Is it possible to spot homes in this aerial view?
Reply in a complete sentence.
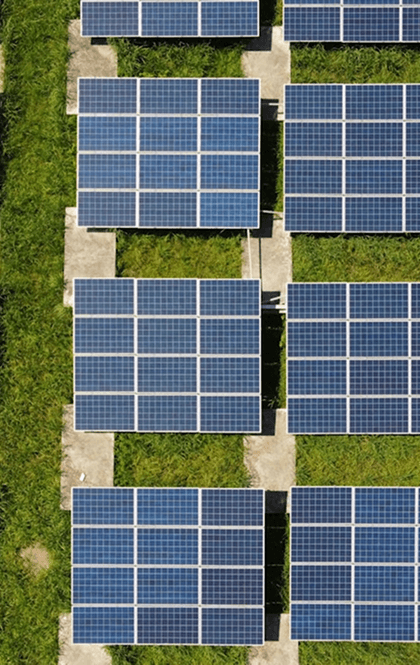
No, there isn't any home down there.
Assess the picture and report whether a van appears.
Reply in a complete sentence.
No, no van can be seen from above.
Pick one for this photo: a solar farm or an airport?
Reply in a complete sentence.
The picture captures a solar farm.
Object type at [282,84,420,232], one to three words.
solar array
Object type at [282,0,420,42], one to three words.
solar array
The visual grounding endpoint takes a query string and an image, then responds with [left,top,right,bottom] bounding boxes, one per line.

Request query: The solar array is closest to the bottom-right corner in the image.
[289,486,420,642]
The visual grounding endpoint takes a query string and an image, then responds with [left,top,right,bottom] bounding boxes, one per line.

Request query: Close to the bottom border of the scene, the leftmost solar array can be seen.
[70,487,266,646]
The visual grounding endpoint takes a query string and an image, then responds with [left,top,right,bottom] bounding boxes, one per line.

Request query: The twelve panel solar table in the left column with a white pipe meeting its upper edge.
[73,278,262,432]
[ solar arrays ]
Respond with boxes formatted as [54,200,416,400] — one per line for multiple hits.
[73,278,262,432]
[80,0,260,37]
[282,0,420,42]
[76,77,262,228]
[289,486,420,642]
[70,487,266,646]
[282,84,420,232]
[285,282,420,434]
